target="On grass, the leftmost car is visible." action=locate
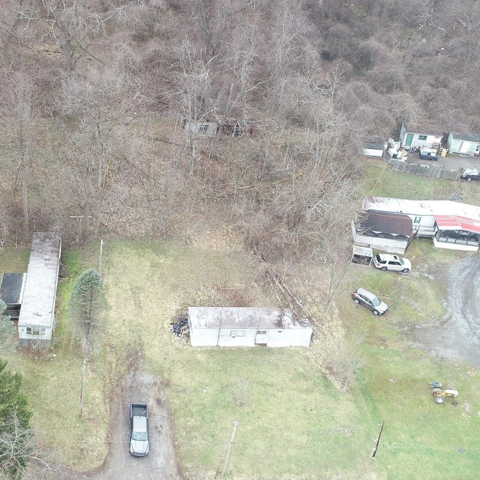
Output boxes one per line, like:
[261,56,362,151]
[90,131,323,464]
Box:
[350,290,390,319]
